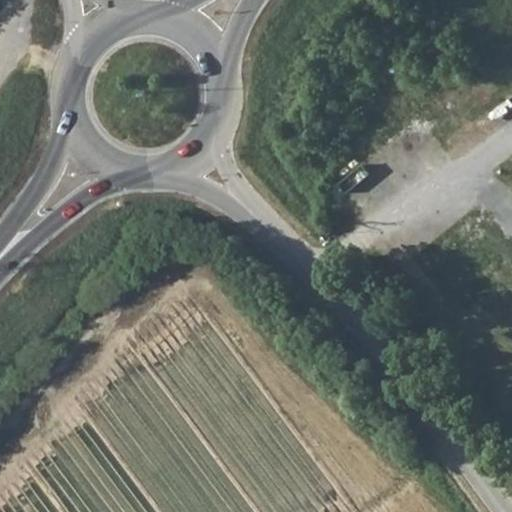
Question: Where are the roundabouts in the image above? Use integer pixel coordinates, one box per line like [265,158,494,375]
[51,0,242,192]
